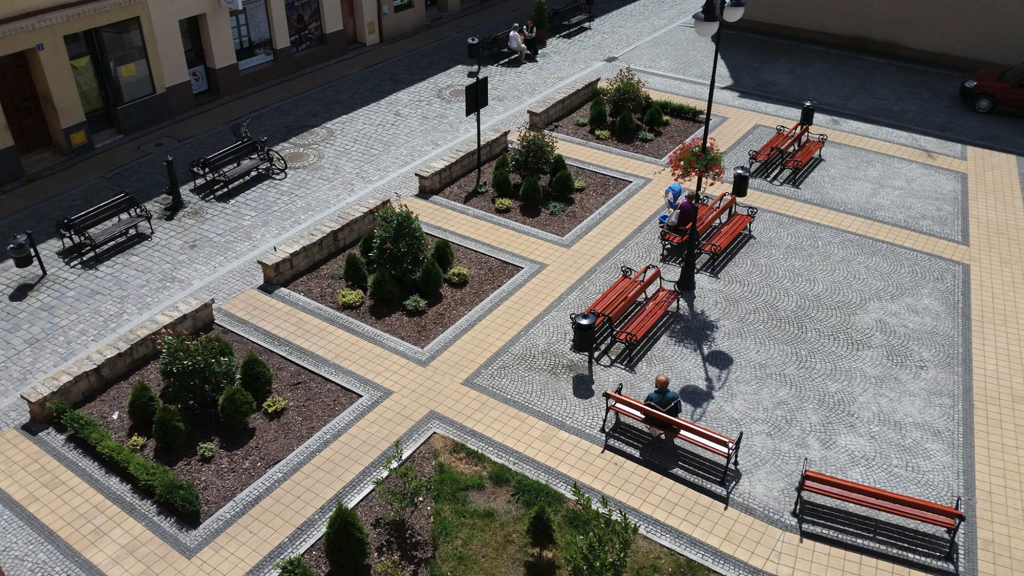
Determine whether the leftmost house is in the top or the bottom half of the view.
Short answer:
top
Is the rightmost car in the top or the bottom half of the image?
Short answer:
top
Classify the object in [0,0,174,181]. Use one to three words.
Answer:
house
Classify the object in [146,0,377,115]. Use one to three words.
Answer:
house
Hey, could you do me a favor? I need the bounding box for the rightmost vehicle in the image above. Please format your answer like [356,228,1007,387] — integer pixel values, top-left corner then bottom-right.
[957,67,1024,115]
